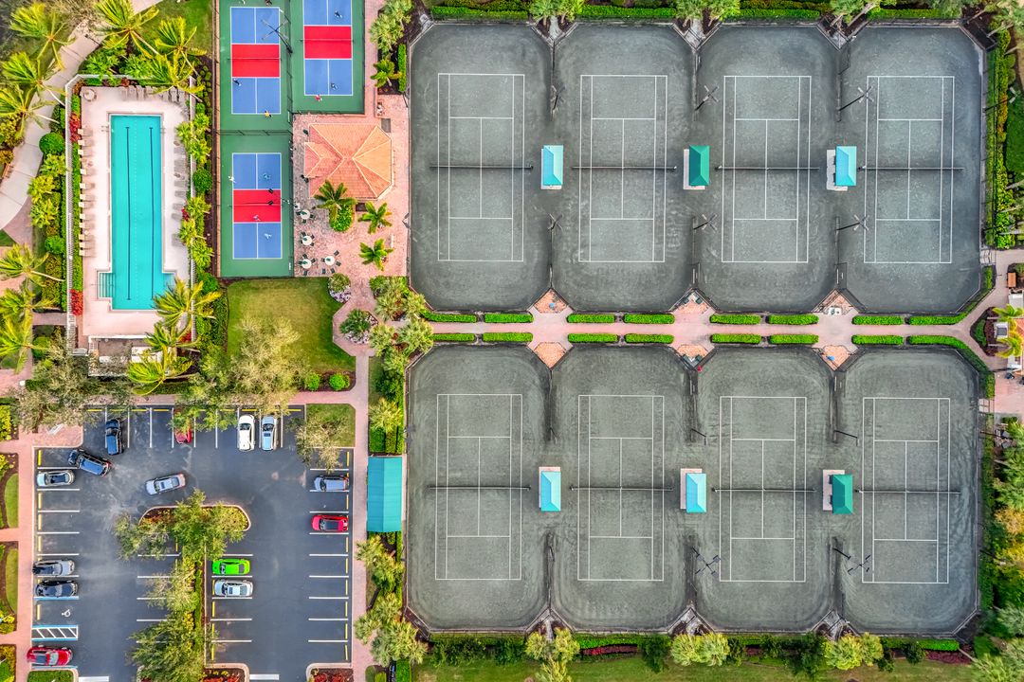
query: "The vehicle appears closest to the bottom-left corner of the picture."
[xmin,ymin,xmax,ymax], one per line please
[27,647,72,668]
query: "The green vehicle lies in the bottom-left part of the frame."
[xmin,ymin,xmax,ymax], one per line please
[214,558,251,577]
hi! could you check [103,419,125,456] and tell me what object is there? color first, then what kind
blue car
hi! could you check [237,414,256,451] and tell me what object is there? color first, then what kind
white car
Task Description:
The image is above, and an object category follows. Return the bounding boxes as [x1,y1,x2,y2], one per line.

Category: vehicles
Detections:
[37,579,78,598]
[38,470,77,488]
[27,647,72,668]
[147,473,187,495]
[71,449,112,476]
[214,558,251,577]
[259,414,278,451]
[314,475,349,492]
[312,514,350,532]
[215,579,254,598]
[33,558,75,577]
[237,414,256,451]
[103,419,125,456]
